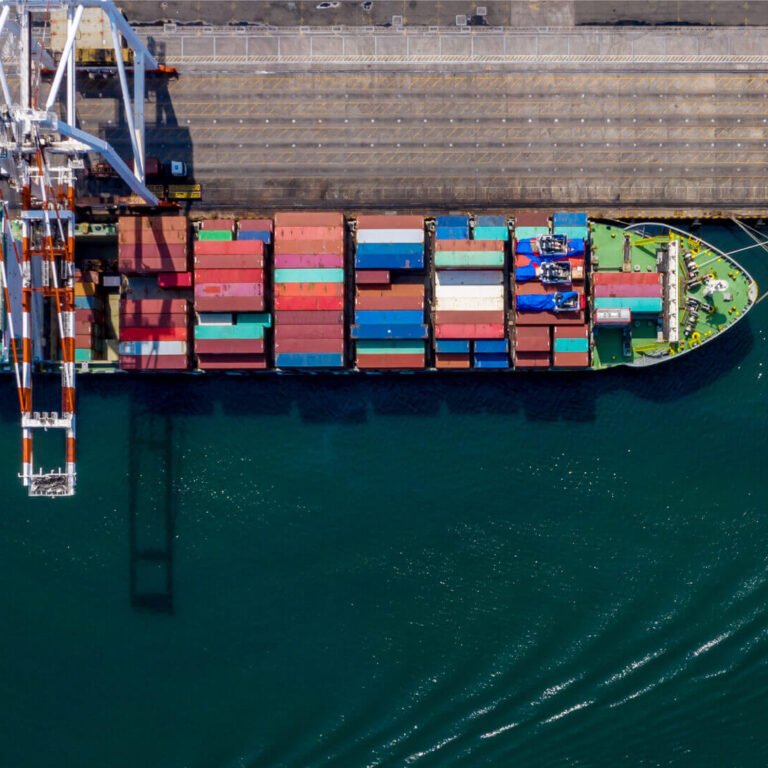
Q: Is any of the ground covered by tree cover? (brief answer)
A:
No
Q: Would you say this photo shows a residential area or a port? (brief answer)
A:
port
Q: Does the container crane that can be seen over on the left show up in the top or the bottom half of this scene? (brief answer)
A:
top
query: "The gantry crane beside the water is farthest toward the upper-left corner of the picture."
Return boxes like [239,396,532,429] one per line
[0,0,182,501]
